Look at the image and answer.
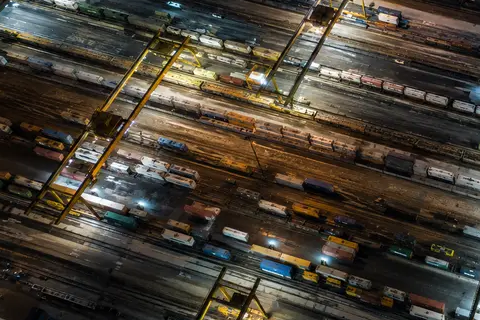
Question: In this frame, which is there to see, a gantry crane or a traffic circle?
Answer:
gantry crane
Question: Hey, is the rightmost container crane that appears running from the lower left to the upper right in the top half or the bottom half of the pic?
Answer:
top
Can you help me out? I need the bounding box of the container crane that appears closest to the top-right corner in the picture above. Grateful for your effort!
[259,0,364,112]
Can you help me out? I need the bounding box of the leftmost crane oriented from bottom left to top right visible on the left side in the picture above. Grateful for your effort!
[23,29,206,227]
